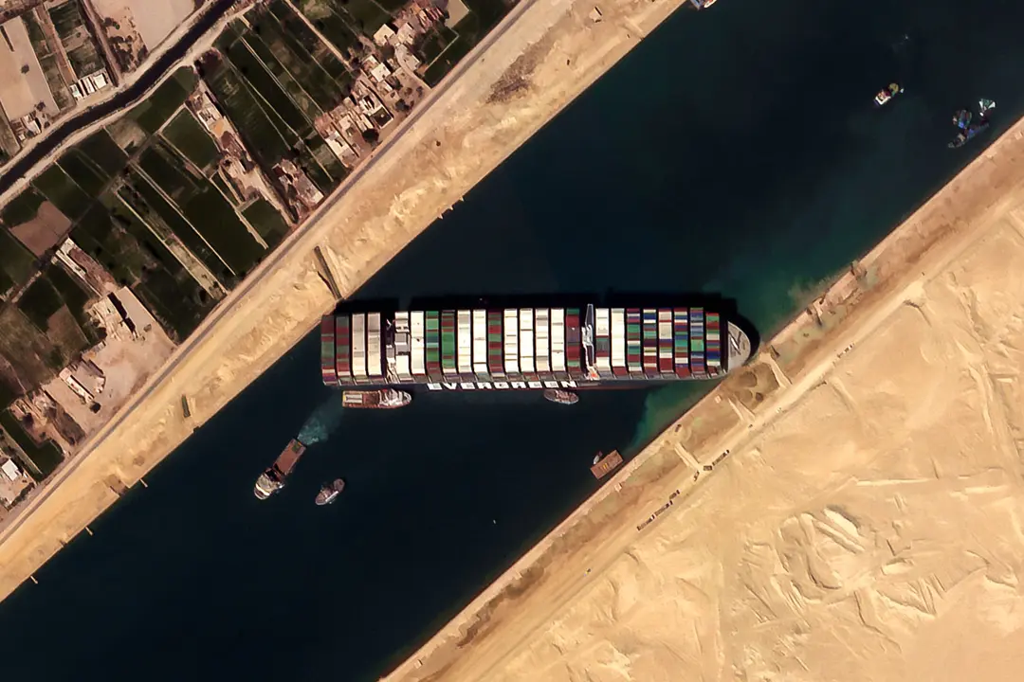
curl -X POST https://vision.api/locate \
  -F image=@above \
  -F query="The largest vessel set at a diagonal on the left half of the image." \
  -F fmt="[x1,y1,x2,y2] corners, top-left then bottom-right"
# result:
[257,437,306,500]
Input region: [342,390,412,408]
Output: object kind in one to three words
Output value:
vessel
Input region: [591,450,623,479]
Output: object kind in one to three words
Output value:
ship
